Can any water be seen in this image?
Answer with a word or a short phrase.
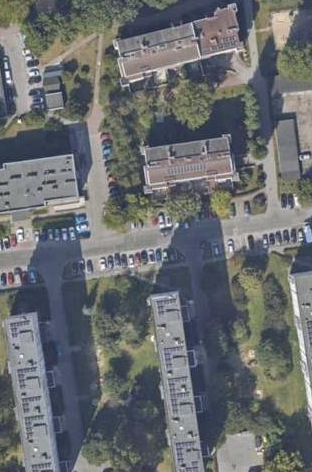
No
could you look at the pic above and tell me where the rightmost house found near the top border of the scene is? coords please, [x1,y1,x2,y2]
[112,2,244,85]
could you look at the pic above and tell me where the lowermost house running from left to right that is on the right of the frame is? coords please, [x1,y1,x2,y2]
[140,134,240,194]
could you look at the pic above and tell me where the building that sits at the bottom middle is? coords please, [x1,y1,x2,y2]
[149,291,212,472]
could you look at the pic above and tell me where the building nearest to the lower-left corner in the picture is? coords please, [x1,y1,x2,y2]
[7,312,70,472]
